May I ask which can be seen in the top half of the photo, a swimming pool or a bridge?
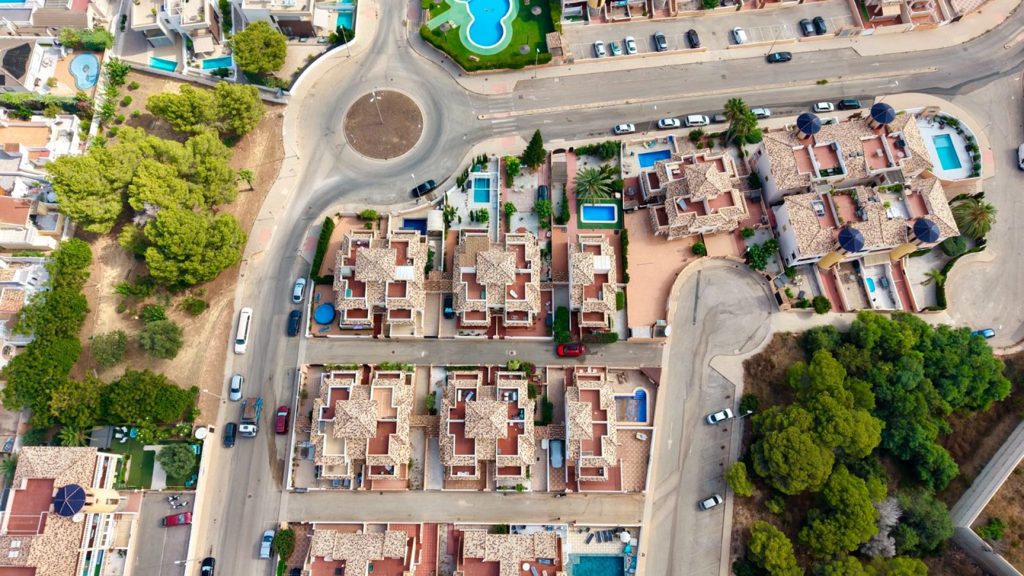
swimming pool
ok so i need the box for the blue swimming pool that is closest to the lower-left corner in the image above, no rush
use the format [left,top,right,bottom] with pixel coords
[312,303,337,327]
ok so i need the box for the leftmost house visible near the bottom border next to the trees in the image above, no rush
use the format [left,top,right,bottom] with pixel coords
[0,447,129,576]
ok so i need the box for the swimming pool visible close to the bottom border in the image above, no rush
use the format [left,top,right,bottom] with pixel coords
[570,556,625,576]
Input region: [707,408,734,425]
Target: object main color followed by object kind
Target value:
white car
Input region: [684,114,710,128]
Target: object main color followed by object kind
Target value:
white car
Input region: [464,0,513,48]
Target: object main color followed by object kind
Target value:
blue swimming pool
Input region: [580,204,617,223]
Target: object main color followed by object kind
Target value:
blue swimming pool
